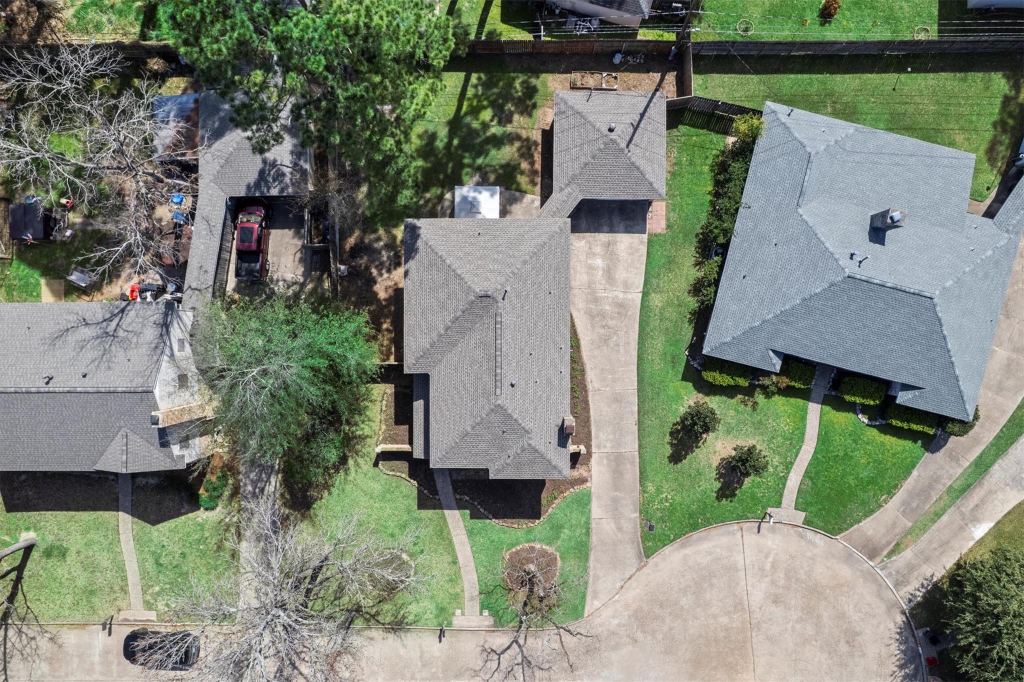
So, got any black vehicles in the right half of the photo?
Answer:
No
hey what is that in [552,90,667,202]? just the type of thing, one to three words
building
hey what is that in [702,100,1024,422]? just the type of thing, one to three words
house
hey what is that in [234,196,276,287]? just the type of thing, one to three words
truck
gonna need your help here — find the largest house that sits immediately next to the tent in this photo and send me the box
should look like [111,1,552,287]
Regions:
[402,216,579,480]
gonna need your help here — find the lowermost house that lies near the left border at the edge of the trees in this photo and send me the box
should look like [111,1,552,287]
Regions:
[0,301,227,477]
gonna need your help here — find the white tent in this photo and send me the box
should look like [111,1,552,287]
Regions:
[455,186,500,218]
